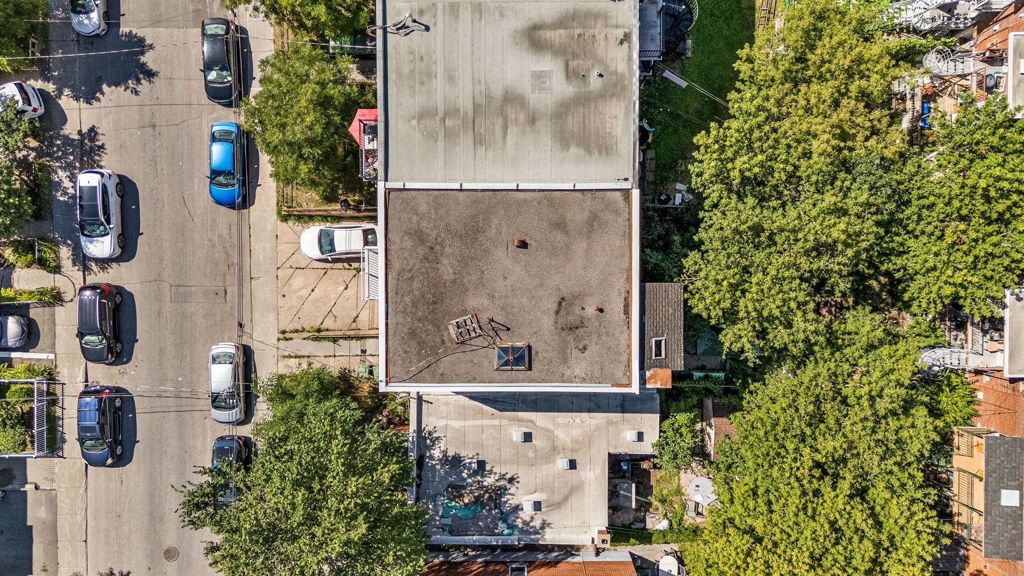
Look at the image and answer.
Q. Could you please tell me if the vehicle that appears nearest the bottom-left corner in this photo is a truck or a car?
car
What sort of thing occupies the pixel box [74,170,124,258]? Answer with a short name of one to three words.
car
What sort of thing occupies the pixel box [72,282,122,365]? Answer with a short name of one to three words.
car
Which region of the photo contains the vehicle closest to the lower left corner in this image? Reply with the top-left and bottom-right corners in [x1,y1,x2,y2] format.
[72,385,122,467]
